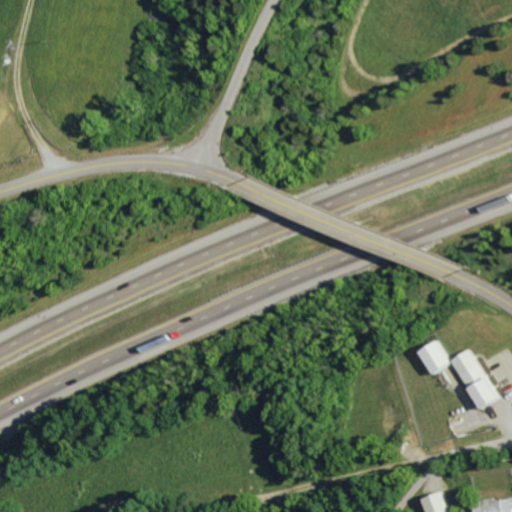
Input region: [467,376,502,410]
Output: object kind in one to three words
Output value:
house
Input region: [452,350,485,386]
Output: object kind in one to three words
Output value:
house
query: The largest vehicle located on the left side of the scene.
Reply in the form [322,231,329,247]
[136,330,180,354]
